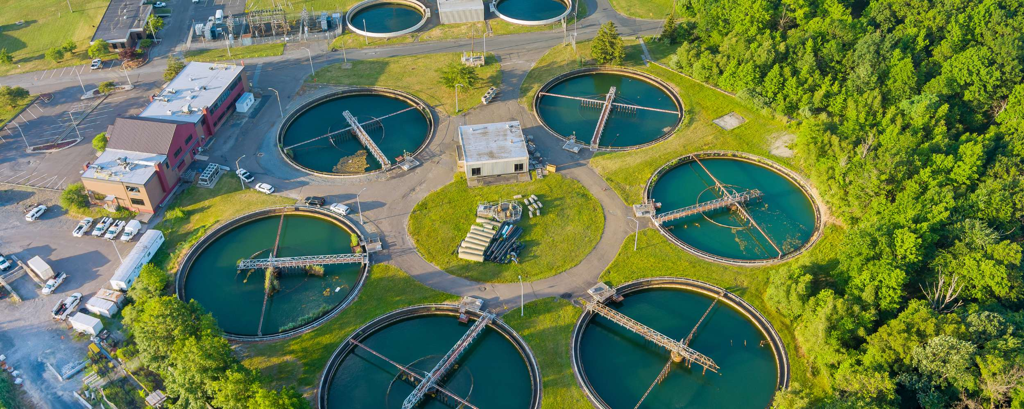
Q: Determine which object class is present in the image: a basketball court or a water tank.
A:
water tank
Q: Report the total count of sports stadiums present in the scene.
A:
0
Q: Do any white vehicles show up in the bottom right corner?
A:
No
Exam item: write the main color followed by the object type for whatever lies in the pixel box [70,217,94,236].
white vehicle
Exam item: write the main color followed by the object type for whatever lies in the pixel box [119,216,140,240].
white truck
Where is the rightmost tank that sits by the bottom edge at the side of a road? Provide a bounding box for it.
[574,276,790,409]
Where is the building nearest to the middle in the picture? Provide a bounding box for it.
[454,121,532,186]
